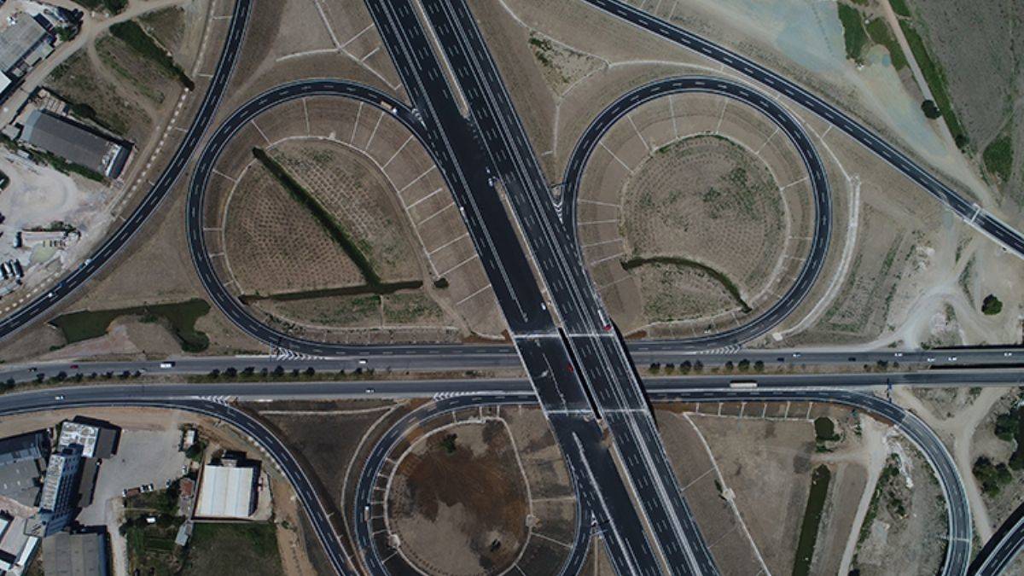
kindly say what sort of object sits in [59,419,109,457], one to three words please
house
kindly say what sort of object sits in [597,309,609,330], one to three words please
vehicle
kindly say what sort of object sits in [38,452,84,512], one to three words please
building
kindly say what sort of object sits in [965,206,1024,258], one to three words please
bridge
